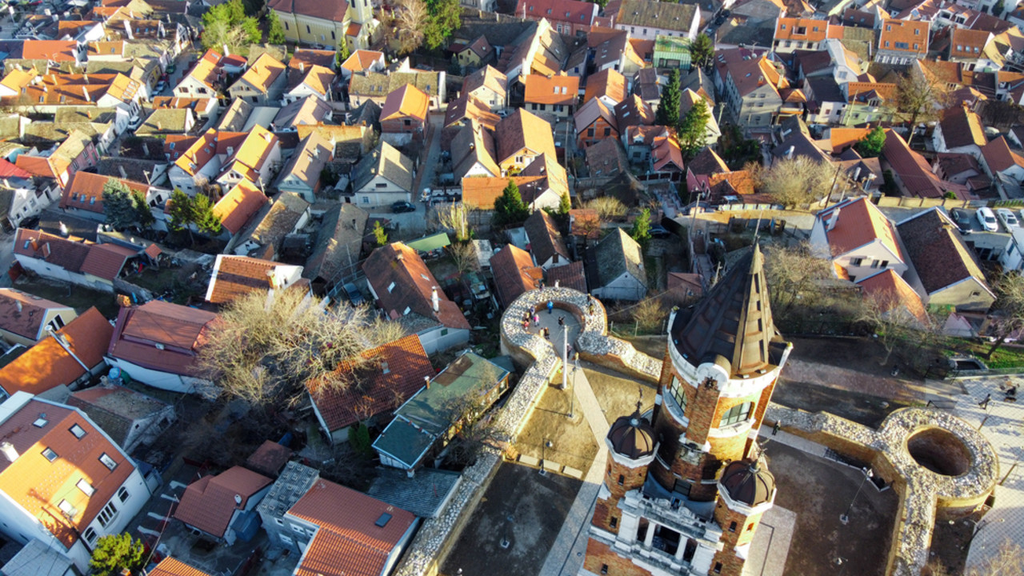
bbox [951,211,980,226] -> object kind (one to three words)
car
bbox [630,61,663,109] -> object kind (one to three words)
house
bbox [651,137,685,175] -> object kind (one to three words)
house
